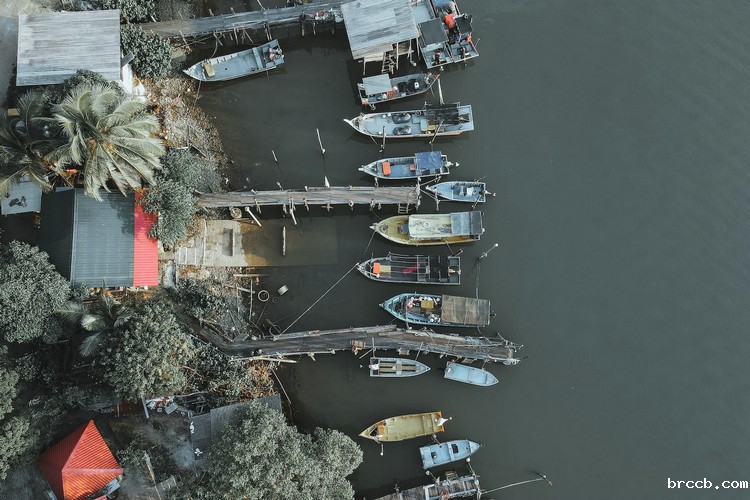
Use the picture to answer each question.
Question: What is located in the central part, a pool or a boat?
boat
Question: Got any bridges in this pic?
No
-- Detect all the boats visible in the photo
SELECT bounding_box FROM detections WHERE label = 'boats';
[182,43,292,81]
[379,293,498,327]
[360,411,454,440]
[369,211,489,245]
[357,151,461,179]
[357,255,469,283]
[406,0,453,78]
[420,438,483,469]
[352,72,438,107]
[341,102,479,137]
[361,357,431,378]
[423,0,478,72]
[437,361,498,386]
[424,181,497,201]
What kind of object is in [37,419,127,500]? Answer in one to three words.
shed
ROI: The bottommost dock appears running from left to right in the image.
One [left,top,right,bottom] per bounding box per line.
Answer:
[366,470,478,500]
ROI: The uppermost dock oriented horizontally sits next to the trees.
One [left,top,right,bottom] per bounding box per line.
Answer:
[143,0,342,51]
